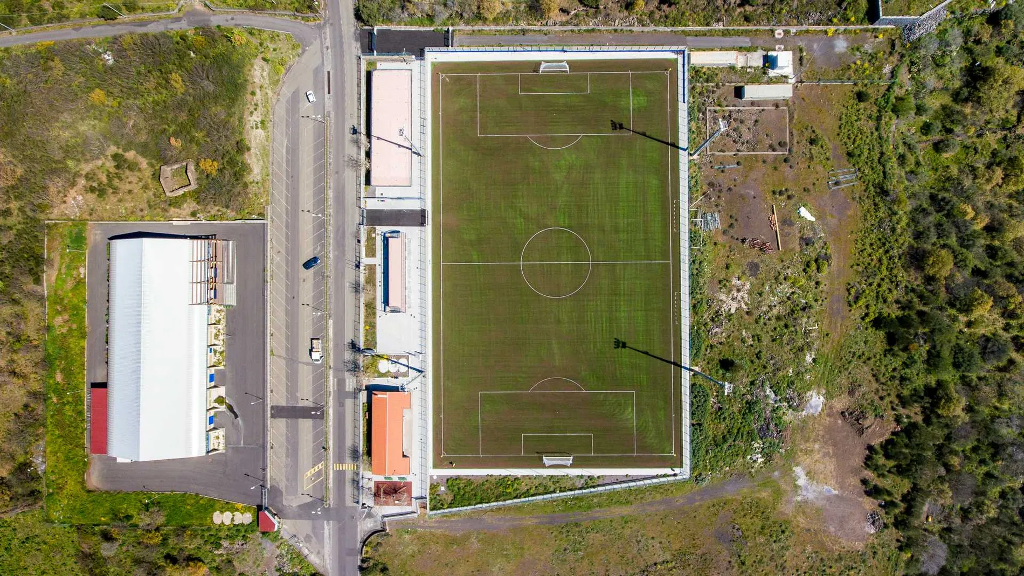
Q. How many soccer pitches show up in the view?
1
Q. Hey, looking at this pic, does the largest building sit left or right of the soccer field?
to its left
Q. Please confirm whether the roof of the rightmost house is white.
Yes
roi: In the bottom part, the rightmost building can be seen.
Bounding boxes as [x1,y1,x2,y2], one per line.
[372,391,412,476]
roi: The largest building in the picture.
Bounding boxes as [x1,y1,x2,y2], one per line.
[85,238,237,462]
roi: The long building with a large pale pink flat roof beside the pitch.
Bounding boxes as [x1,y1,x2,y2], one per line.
[370,69,413,188]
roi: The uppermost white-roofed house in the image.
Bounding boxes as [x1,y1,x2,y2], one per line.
[766,51,793,77]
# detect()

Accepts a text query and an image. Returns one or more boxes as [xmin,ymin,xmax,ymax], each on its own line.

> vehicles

[311,339,322,362]
[305,89,316,104]
[301,257,320,269]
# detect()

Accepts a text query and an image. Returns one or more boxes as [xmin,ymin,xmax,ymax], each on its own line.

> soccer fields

[433,58,681,468]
